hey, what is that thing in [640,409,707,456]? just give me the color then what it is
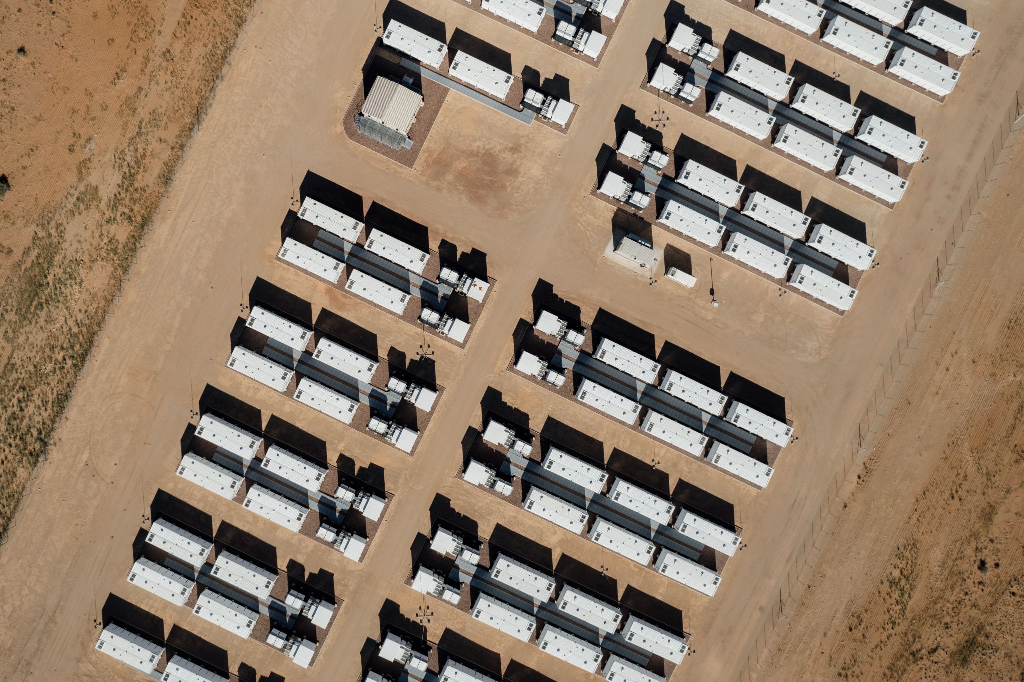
white shipping container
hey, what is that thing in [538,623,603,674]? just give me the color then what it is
white shipping container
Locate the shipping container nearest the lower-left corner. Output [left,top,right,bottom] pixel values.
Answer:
[94,624,166,675]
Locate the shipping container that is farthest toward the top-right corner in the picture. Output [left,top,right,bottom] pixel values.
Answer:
[906,8,979,59]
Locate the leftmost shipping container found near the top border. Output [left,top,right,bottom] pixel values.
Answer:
[384,19,449,70]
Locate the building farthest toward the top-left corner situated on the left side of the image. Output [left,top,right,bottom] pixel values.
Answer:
[356,77,427,152]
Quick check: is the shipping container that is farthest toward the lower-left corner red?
No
